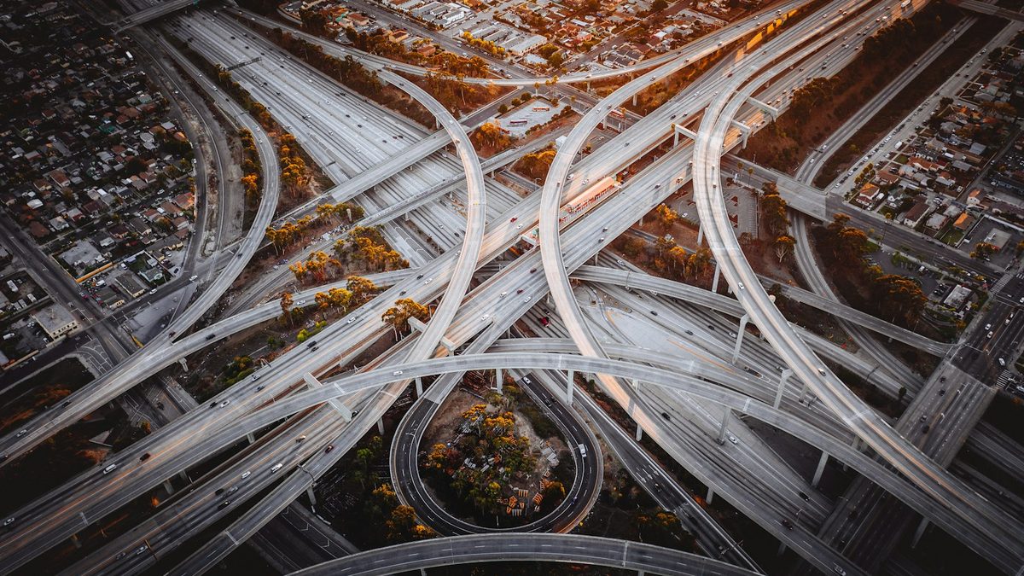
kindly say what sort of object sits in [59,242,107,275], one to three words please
building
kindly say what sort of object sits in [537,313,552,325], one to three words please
vehicle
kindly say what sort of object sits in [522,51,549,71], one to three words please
building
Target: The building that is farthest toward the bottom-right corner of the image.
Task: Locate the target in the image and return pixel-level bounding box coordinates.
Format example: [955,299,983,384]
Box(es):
[943,283,977,312]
